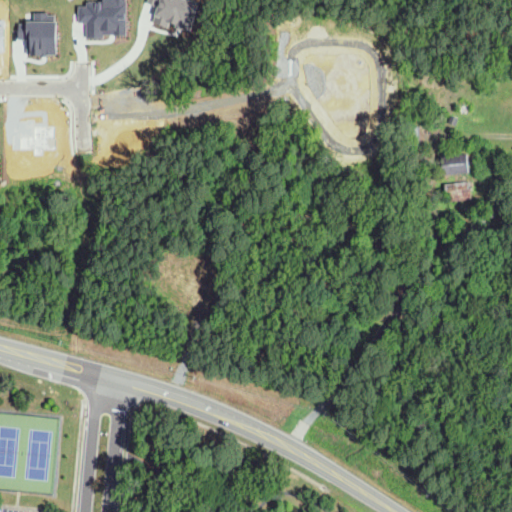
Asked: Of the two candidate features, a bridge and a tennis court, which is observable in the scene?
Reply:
tennis court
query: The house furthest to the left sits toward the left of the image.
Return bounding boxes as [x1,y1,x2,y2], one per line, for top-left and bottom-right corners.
[16,12,56,56]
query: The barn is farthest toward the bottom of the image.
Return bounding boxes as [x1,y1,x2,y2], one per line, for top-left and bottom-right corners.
[446,182,472,201]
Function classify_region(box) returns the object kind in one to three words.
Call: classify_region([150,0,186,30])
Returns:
house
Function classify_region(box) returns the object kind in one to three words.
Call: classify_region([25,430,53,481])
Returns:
tennis court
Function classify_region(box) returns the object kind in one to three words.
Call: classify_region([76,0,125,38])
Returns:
house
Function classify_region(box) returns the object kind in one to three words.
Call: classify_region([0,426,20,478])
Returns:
tennis court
